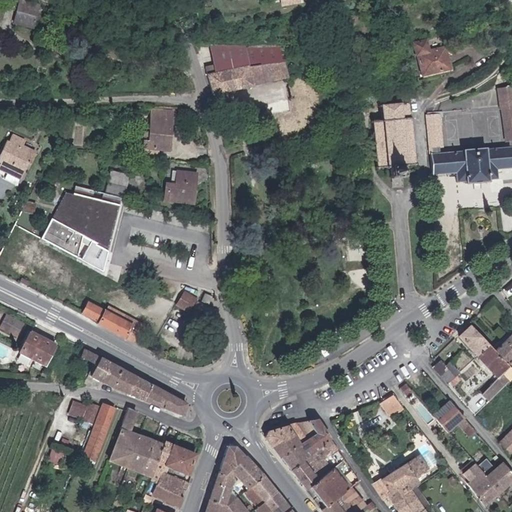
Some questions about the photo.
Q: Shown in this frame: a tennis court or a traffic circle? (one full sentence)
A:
This aerial view contains a traffic circle.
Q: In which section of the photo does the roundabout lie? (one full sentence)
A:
Look in the bottom portion of the view to spot the roundabout.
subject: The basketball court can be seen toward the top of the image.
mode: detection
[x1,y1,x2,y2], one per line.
[442,107,504,150]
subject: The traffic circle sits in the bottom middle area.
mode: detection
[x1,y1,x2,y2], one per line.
[201,373,257,429]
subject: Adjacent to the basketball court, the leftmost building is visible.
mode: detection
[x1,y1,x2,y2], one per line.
[371,103,417,193]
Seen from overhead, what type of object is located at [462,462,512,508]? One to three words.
house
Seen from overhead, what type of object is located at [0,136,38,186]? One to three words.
house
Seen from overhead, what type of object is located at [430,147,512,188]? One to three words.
building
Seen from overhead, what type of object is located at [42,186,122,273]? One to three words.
building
